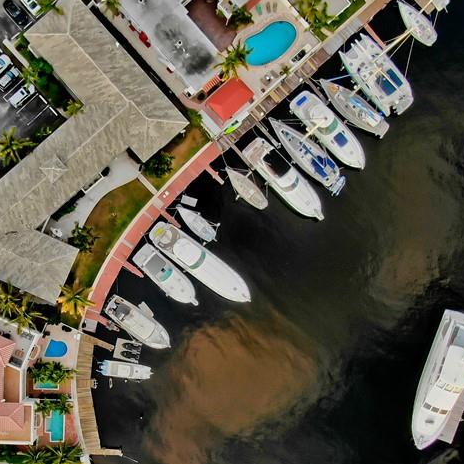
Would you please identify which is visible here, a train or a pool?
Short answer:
pool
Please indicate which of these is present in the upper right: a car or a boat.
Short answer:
boat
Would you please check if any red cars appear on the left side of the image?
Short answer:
No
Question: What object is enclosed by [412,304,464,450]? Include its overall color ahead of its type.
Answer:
white boat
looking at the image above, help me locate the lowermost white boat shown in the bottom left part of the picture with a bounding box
[99,361,150,379]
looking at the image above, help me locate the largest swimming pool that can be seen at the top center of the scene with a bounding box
[241,18,298,67]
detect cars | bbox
[20,0,44,19]
[0,53,13,76]
[1,0,30,30]
[0,67,22,92]
[9,82,37,110]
